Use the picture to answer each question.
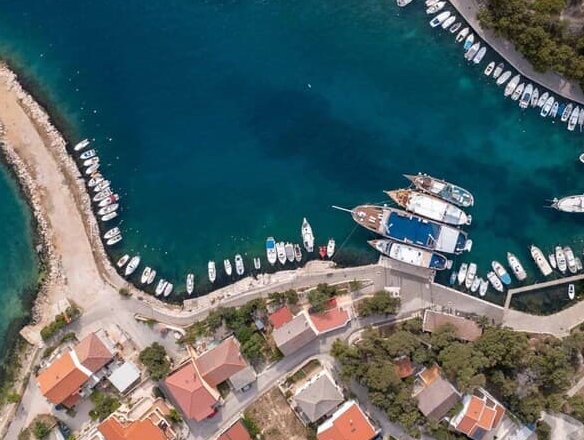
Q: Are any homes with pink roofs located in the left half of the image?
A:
Yes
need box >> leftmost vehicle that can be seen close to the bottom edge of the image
[60,421,73,437]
